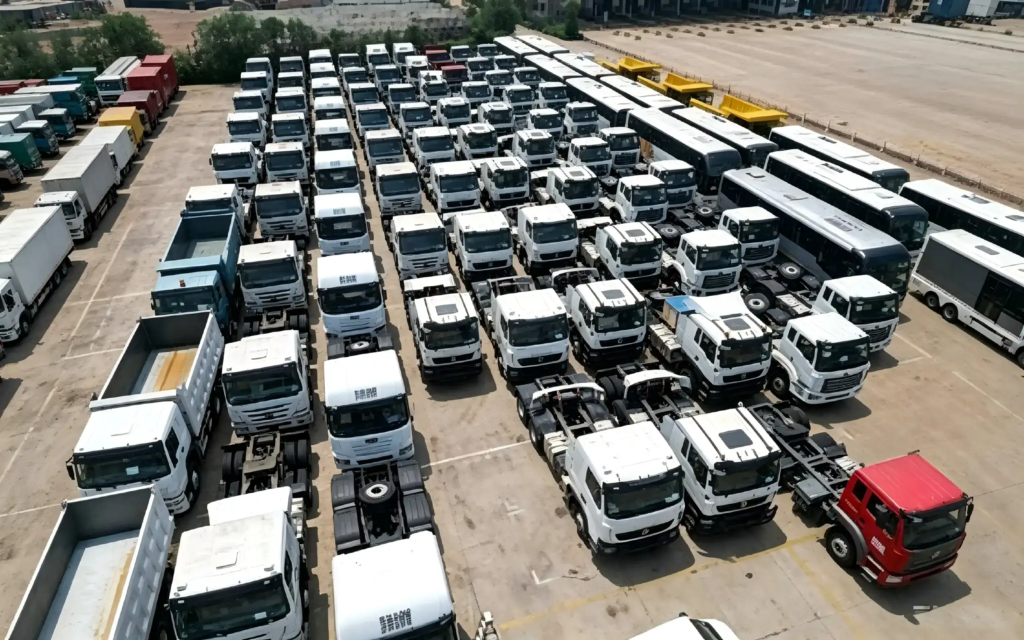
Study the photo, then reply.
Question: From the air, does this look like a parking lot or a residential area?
parking lot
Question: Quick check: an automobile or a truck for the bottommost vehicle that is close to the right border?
truck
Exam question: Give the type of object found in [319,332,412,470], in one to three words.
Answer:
truck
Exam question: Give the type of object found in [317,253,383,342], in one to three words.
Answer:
truck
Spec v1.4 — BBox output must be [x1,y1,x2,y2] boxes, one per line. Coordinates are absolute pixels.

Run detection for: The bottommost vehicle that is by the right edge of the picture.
[738,399,986,584]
